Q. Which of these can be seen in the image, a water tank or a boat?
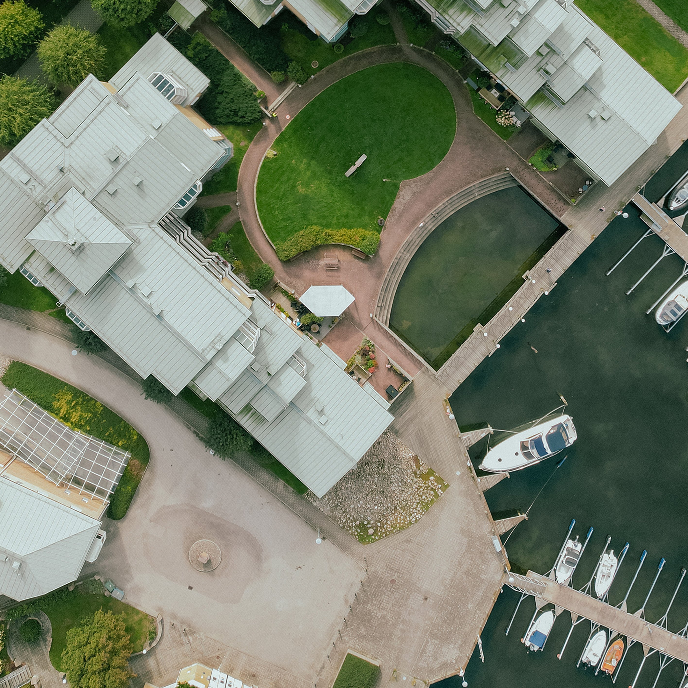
boat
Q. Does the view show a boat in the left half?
No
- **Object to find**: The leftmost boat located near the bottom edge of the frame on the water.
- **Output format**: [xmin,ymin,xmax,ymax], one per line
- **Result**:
[525,611,555,654]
